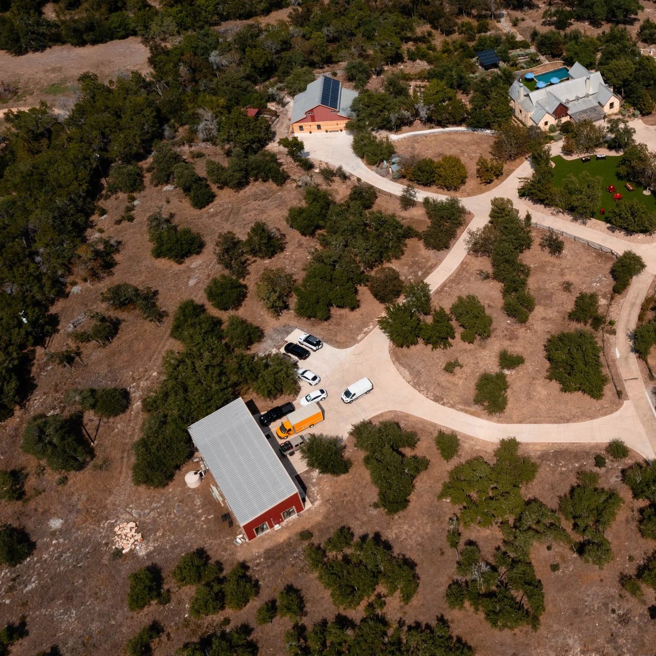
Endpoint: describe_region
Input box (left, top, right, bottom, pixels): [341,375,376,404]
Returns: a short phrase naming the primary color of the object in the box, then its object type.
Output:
white van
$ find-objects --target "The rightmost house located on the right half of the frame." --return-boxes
[506,61,621,133]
